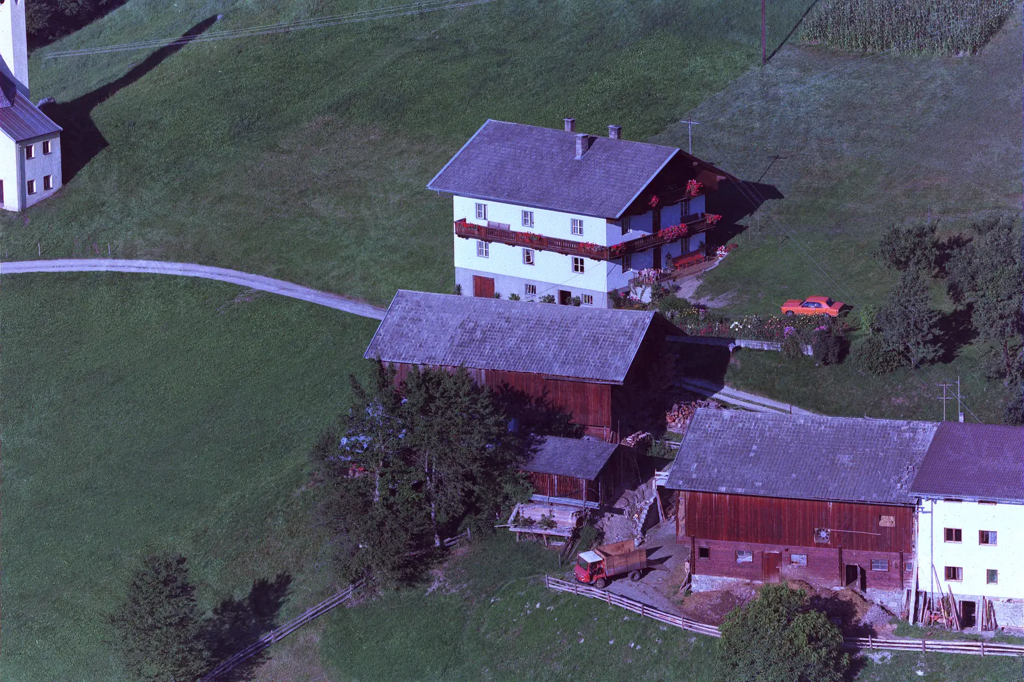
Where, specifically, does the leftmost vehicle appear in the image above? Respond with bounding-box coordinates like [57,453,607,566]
[574,539,658,588]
